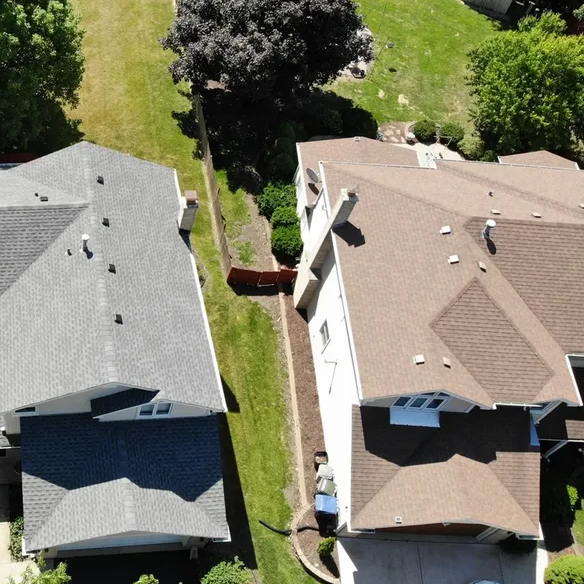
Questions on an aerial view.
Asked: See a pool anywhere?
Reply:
No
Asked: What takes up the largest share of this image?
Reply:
buildings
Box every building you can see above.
[289,136,584,548]
[0,141,233,562]
[457,0,513,22]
